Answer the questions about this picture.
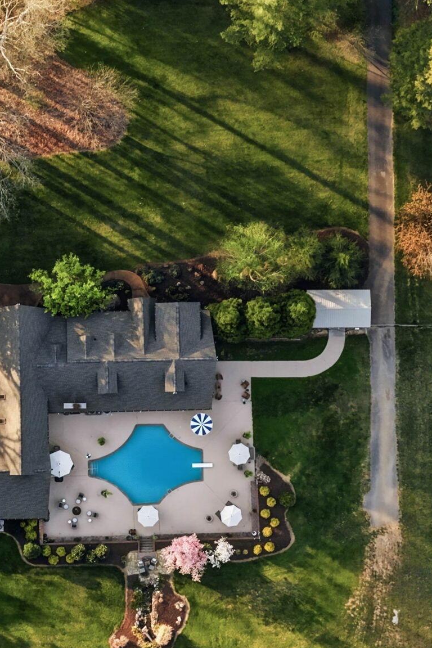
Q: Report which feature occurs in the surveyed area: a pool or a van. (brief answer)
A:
pool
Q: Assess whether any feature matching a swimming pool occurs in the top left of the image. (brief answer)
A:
No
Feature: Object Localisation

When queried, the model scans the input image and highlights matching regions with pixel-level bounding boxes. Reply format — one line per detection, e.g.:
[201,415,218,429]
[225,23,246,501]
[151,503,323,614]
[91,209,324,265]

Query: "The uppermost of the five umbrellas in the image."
[189,413,212,435]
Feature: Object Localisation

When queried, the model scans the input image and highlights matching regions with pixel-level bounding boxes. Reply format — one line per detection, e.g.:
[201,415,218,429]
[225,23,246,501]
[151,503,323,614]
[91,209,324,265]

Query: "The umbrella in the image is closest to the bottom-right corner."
[219,504,241,525]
